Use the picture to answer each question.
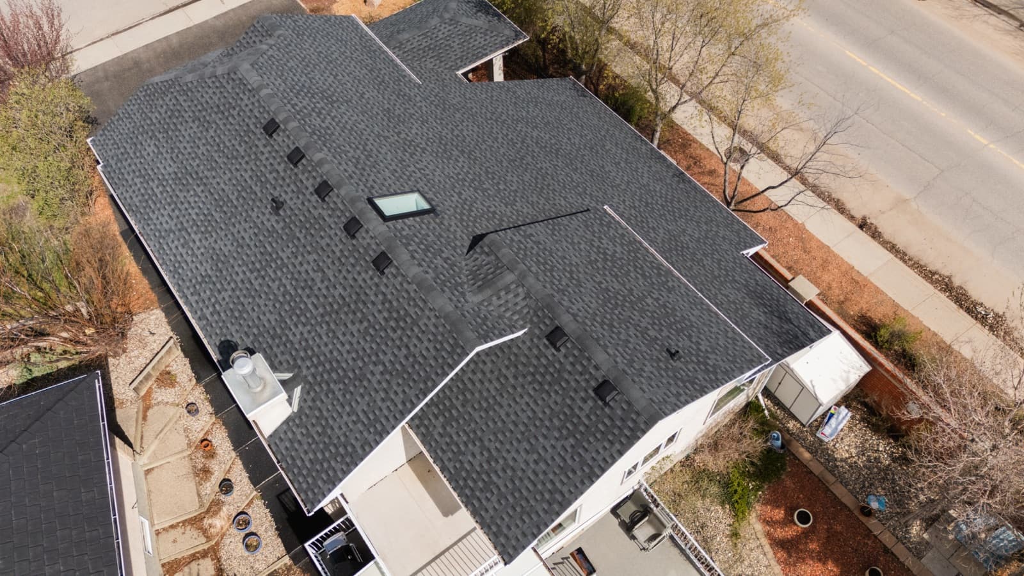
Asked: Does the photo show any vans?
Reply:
No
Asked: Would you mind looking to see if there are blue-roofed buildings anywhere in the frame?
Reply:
No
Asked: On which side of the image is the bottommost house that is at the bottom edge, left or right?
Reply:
left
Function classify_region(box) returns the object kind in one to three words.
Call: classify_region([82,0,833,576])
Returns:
house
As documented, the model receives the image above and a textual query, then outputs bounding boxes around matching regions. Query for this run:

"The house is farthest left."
[0,370,157,576]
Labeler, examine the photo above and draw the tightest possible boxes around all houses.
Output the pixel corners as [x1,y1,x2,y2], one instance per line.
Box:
[82,0,833,576]
[0,370,157,576]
